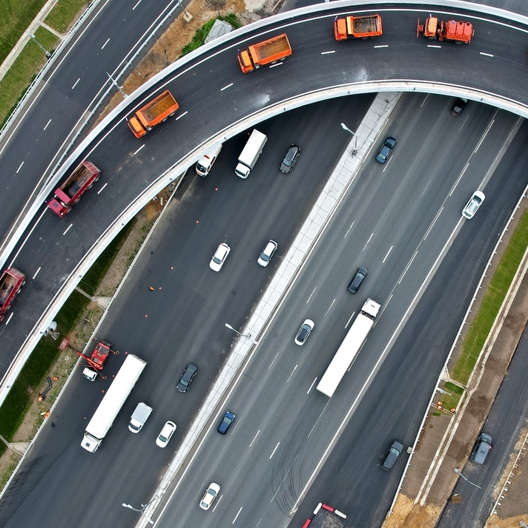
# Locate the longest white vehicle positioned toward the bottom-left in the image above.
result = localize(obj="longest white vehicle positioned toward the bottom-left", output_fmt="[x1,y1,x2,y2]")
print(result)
[78,353,149,454]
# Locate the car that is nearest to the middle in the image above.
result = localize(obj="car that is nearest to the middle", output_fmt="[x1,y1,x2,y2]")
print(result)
[257,237,279,267]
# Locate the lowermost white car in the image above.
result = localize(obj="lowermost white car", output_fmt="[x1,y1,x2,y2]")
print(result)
[198,482,221,512]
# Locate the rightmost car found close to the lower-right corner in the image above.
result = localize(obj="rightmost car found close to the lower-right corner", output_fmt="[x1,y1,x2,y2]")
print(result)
[469,431,492,464]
